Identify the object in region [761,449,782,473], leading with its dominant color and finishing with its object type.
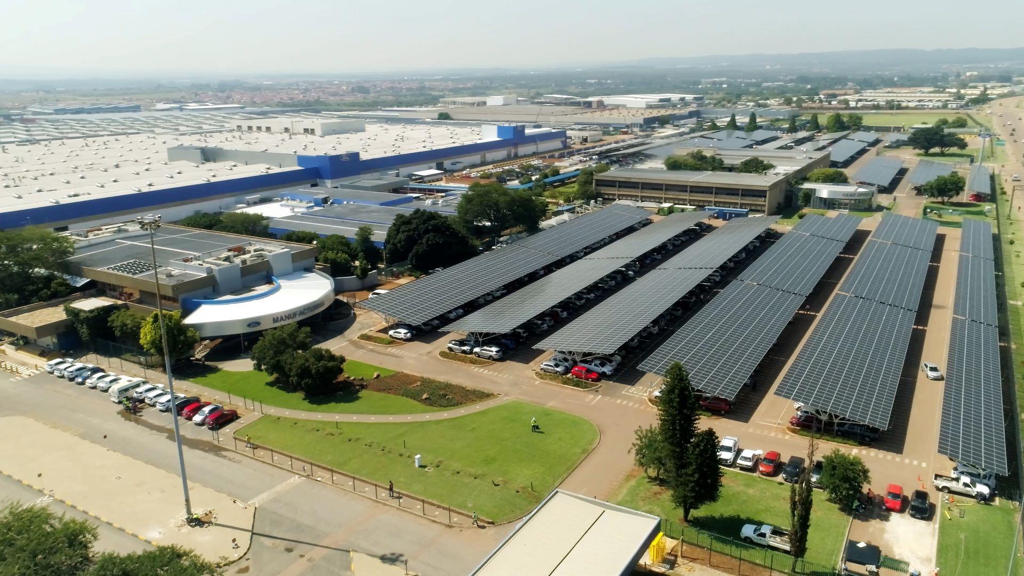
red car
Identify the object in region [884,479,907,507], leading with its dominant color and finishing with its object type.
red car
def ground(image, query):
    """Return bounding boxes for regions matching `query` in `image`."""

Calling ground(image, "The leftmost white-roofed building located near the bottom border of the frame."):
[472,490,662,576]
